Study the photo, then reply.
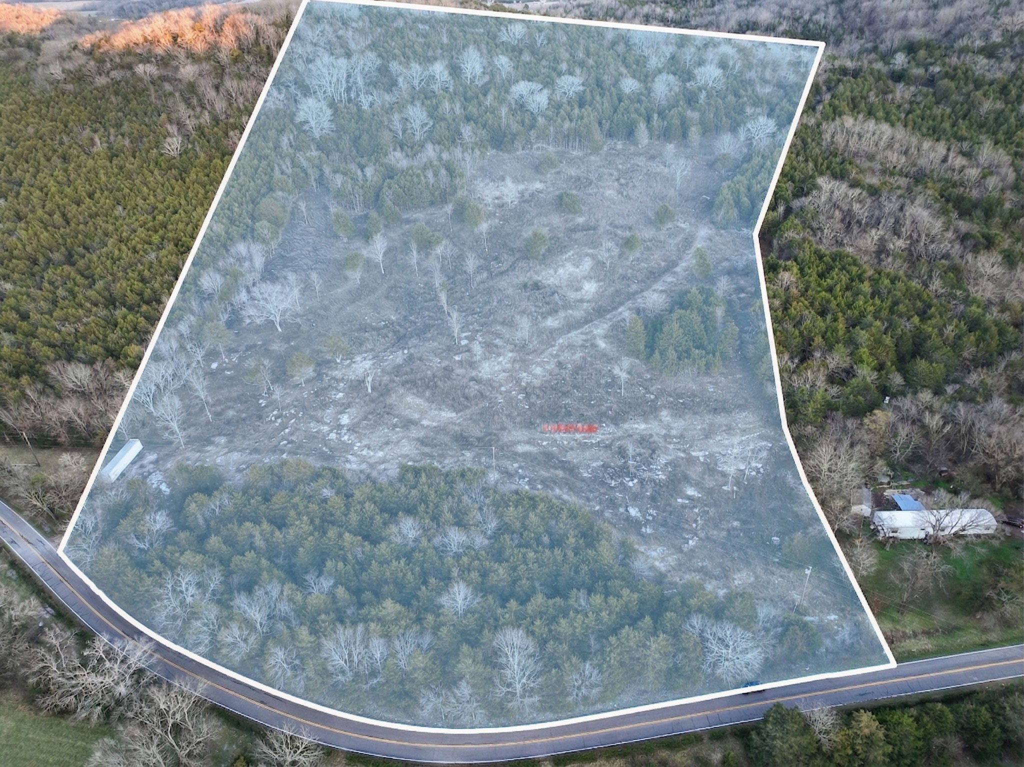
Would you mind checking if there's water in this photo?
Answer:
No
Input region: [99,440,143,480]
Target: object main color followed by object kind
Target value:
white trailer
